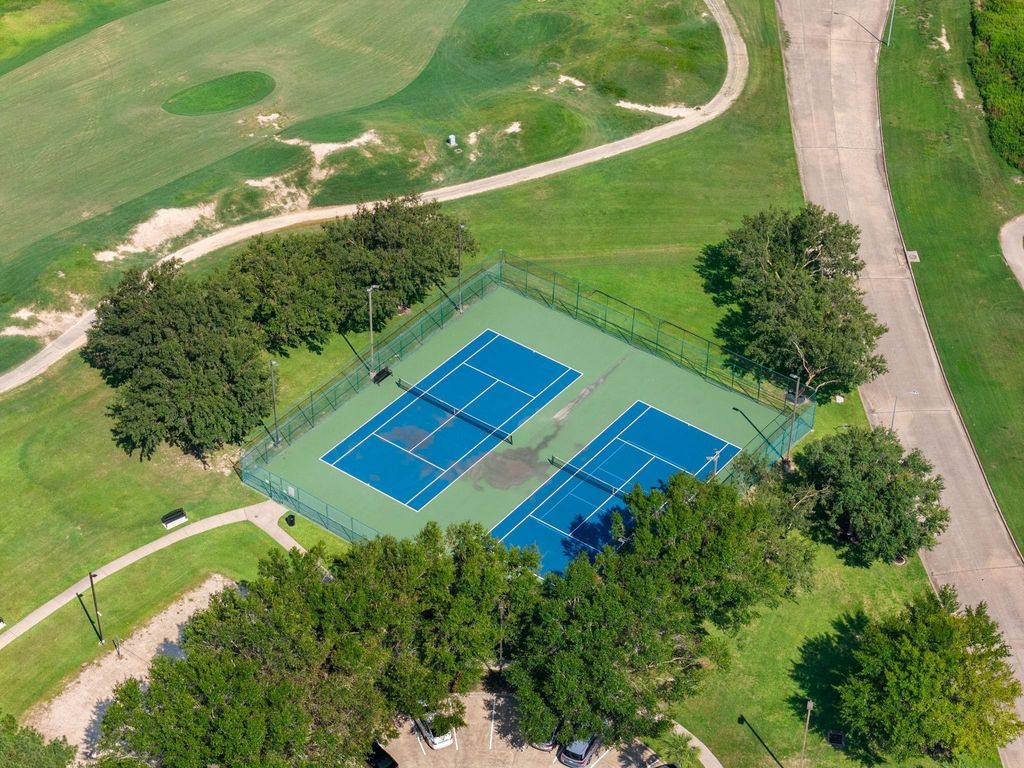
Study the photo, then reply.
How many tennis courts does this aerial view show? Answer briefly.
2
